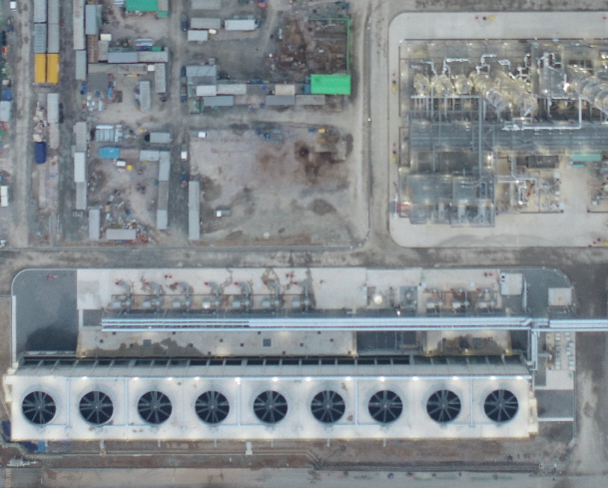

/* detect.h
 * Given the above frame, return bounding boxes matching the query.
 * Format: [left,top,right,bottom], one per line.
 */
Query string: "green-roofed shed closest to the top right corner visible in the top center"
[310,73,350,95]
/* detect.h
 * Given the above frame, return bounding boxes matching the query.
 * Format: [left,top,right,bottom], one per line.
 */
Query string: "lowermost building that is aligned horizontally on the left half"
[105,227,137,240]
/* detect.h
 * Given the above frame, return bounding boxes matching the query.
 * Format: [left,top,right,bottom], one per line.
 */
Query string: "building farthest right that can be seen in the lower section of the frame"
[547,285,573,306]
